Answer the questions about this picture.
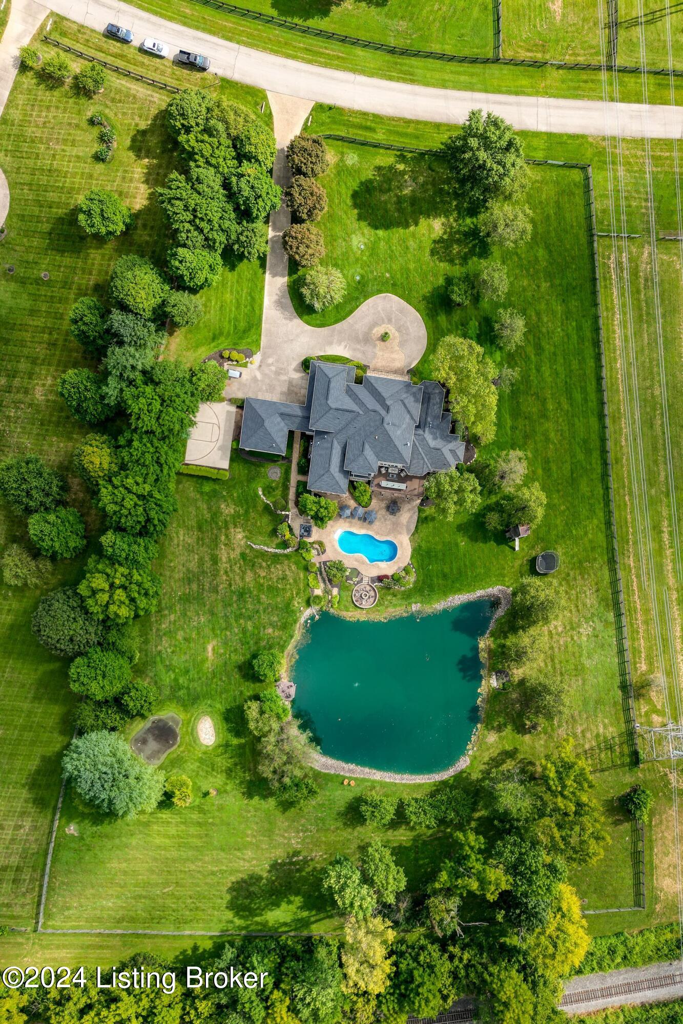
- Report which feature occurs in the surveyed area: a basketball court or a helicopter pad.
basketball court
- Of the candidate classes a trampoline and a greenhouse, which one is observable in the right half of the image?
trampoline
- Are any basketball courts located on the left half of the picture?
Yes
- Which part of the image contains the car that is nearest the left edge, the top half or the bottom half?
top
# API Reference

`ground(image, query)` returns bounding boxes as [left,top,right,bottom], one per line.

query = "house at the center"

[239,360,465,500]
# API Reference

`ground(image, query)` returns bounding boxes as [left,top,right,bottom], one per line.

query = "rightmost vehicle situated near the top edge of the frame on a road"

[176,50,210,70]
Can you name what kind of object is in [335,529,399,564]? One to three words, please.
swimming pool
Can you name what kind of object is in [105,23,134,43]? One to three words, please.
car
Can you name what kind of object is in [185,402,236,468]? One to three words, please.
basketball court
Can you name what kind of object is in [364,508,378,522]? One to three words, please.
umbrella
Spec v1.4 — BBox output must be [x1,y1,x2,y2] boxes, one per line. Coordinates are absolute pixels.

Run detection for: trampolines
[535,551,559,575]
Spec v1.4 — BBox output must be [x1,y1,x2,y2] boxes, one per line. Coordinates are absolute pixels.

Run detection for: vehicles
[176,50,210,70]
[228,369,243,378]
[105,23,134,43]
[140,39,169,58]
